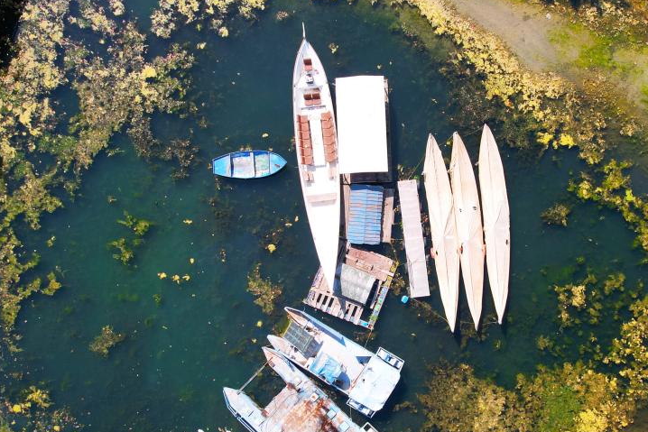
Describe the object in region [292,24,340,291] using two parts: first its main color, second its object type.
white boat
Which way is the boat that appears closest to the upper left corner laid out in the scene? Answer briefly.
horizontally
